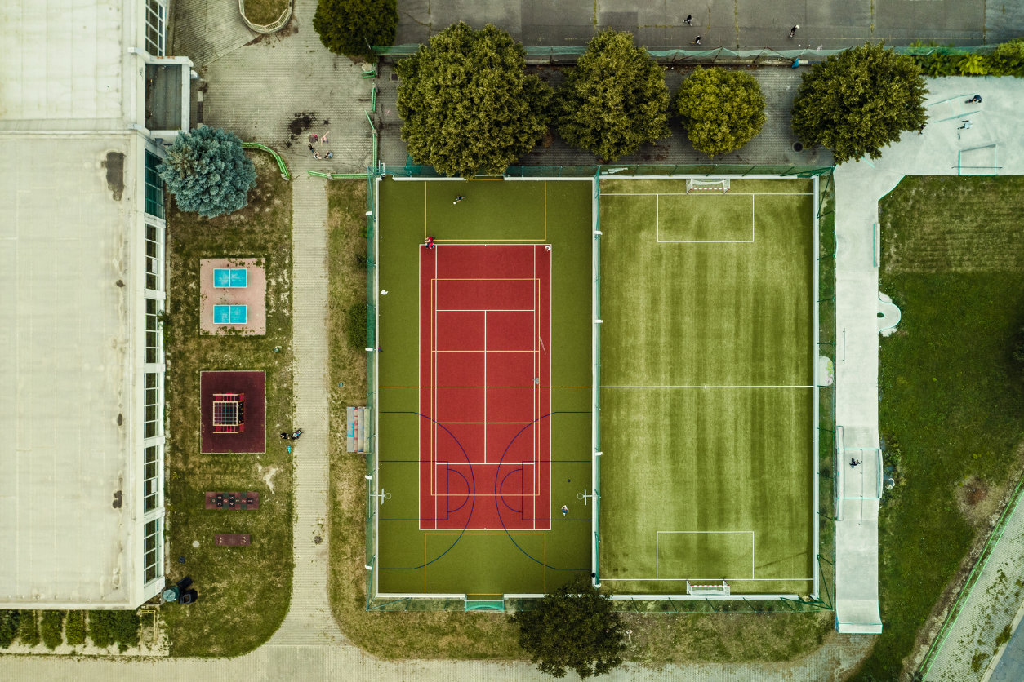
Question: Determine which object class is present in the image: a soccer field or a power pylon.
soccer field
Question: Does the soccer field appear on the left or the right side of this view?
right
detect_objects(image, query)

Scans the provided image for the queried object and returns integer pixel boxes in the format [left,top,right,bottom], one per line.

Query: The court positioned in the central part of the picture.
[378,169,594,604]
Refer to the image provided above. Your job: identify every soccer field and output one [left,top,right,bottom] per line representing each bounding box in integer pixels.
[594,175,815,597]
